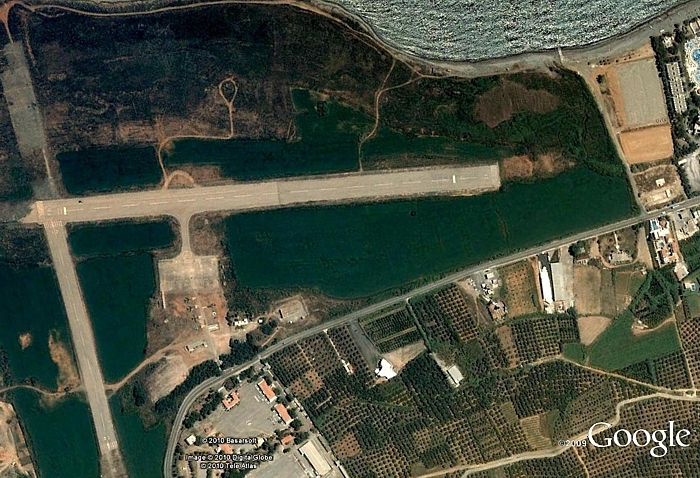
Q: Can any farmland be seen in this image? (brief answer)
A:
Yes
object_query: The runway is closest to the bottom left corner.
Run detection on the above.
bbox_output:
[44,220,126,478]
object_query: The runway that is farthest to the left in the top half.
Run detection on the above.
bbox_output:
[2,41,44,152]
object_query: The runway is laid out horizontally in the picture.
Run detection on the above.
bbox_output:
[21,161,500,224]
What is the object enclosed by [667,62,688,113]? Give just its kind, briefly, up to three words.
building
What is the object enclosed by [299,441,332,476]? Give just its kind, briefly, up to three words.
building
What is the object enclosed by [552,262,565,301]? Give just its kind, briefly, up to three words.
shed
